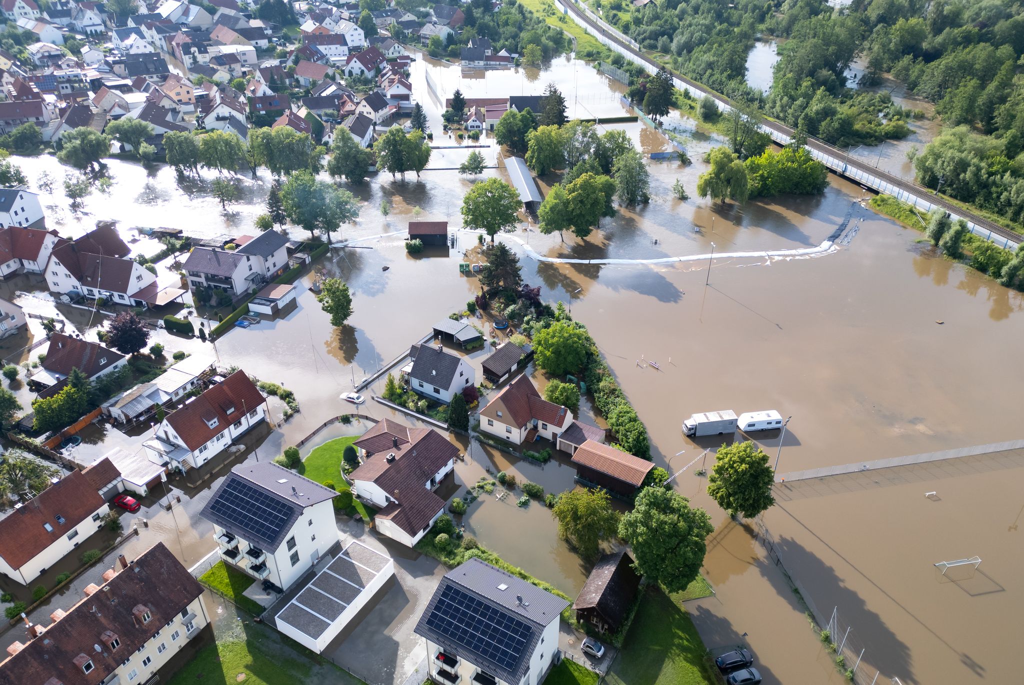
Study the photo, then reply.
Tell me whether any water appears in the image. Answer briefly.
Yes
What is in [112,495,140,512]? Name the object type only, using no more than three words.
car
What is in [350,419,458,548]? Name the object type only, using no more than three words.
house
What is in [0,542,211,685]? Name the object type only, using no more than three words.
building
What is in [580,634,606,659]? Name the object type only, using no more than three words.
car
